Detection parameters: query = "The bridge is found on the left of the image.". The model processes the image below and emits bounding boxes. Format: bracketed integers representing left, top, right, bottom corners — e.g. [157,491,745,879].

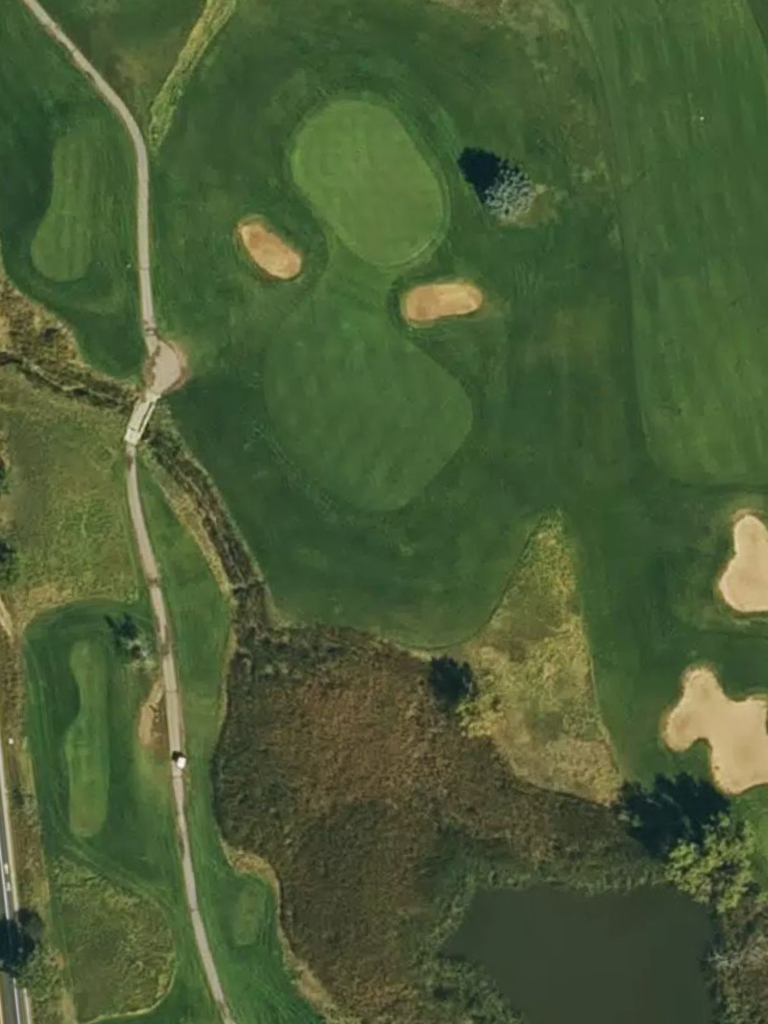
[124,390,161,445]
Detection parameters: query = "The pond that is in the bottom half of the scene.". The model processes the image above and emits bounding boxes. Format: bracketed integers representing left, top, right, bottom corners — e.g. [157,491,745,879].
[441,881,710,1024]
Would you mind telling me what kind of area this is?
golf course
